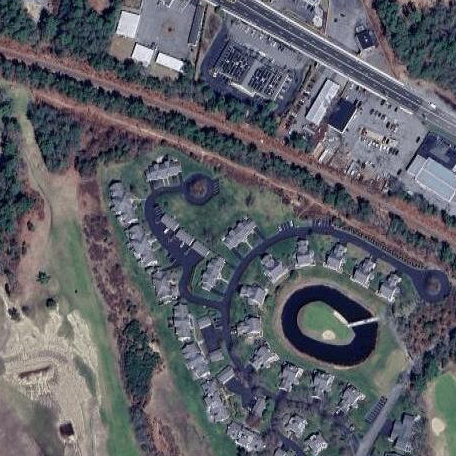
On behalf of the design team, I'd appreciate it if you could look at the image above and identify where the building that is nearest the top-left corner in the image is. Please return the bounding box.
[115,11,140,39]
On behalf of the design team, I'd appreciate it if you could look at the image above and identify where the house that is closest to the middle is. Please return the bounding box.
[222,217,258,251]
